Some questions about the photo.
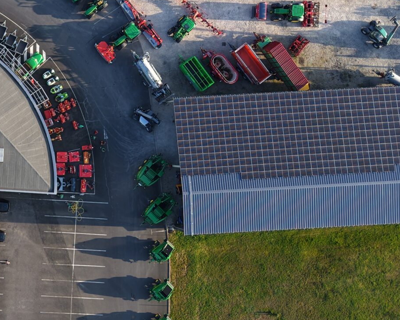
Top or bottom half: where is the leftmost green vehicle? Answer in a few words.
top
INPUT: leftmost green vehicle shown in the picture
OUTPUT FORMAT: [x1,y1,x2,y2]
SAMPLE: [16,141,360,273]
[19,55,42,77]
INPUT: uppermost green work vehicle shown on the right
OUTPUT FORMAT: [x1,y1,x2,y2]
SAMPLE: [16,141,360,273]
[266,2,306,22]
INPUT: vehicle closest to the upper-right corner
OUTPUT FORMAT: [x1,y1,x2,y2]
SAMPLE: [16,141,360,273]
[358,22,400,48]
